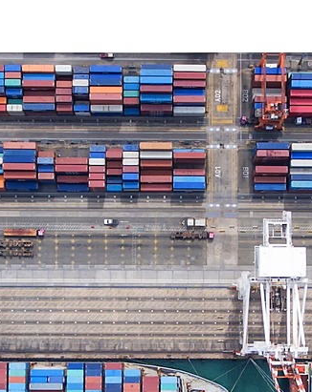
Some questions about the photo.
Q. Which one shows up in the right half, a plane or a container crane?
container crane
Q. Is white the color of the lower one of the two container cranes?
Yes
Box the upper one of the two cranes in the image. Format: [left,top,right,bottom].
[249,55,288,136]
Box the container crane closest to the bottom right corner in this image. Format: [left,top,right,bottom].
[226,208,309,392]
